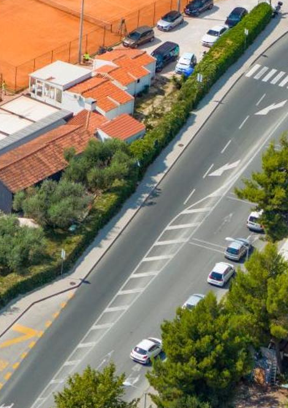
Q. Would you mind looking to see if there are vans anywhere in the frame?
Yes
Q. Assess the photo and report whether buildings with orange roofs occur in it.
Yes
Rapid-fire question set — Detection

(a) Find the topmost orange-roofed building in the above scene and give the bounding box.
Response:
[65,48,157,120]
